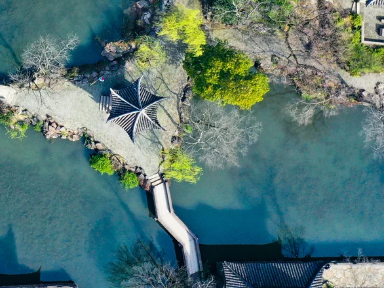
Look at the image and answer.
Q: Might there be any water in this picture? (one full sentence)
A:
Yes, some water is visible.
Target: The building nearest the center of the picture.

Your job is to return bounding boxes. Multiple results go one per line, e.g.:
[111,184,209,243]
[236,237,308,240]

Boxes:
[103,74,173,145]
